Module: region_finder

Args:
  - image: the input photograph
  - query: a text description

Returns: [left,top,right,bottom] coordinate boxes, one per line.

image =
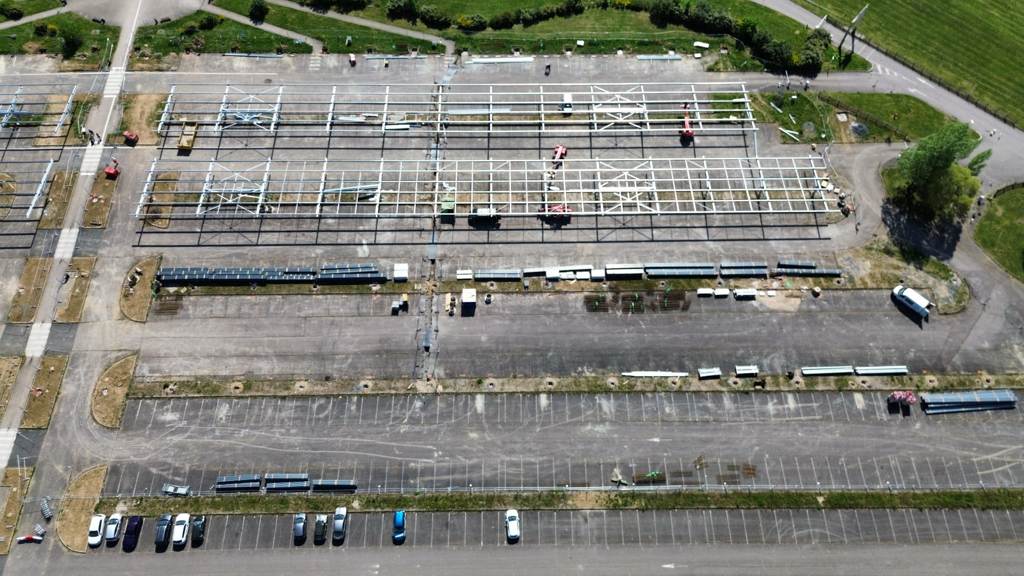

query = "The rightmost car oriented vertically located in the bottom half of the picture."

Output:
[506,510,520,541]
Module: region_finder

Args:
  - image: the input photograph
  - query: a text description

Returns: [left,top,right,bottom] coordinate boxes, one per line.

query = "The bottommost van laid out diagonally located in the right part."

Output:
[891,287,937,321]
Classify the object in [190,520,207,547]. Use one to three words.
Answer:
car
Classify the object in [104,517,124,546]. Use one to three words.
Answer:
car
